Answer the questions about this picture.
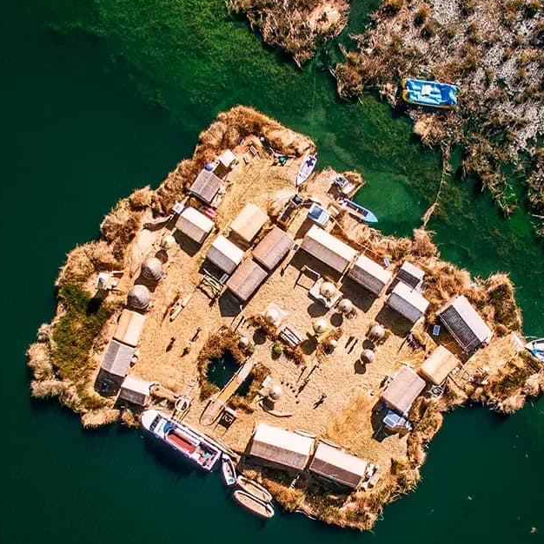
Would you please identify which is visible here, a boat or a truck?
boat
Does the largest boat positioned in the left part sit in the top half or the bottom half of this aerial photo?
bottom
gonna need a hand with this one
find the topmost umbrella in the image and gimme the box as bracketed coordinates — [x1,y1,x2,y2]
[163,235,175,248]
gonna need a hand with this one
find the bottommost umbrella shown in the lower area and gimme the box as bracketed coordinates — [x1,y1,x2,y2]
[270,384,283,398]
